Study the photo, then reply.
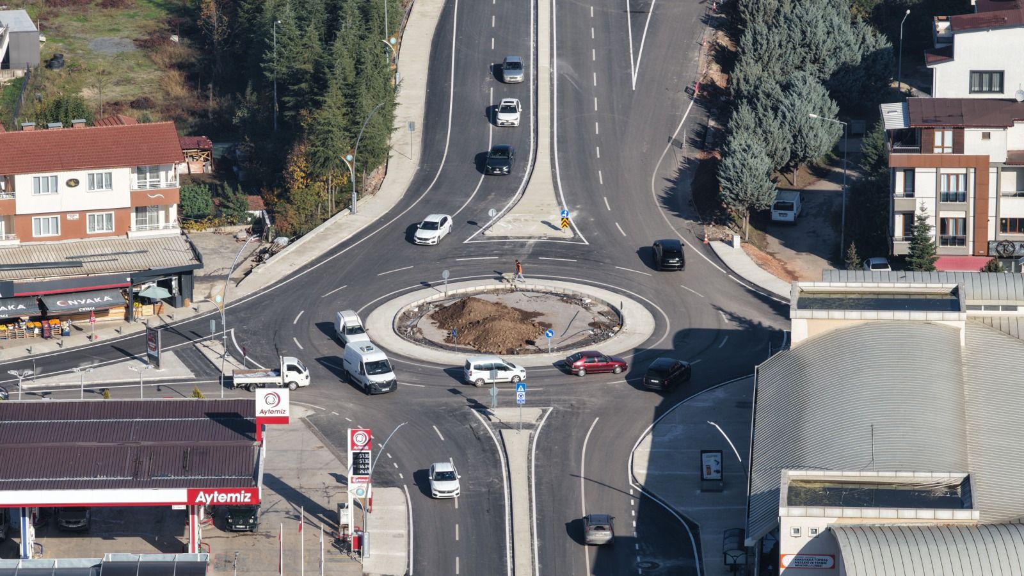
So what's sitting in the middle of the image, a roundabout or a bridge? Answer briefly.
roundabout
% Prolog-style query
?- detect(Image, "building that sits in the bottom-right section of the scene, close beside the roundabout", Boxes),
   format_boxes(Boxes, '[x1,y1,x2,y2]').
[744,269,1024,576]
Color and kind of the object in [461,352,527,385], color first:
white van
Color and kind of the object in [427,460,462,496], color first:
white car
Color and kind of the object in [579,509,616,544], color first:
gray car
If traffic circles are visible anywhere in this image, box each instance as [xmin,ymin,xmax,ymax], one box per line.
[367,276,655,367]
